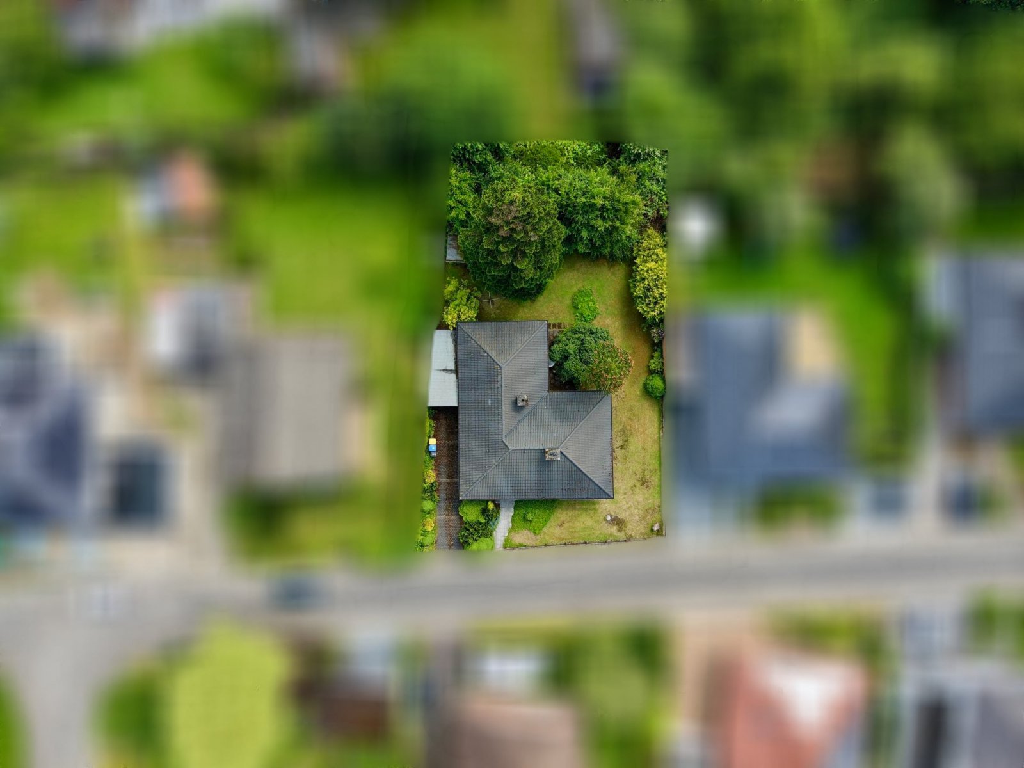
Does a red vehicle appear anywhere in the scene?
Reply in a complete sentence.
No, there isn't any red vehicle down there.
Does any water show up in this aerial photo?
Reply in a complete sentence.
No, the scene doesn't show any water.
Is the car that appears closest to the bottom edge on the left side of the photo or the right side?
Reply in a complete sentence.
The car that appears closest to the bottom edge sits on the right side.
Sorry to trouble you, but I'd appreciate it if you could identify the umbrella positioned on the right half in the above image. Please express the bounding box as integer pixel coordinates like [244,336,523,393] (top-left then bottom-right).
[673,205,715,247]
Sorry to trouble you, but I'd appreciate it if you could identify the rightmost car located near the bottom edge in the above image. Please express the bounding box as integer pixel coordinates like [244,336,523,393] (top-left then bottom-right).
[917,699,946,755]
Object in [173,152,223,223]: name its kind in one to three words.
shed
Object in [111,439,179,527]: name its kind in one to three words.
building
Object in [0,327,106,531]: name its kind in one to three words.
house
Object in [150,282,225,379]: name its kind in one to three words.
building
